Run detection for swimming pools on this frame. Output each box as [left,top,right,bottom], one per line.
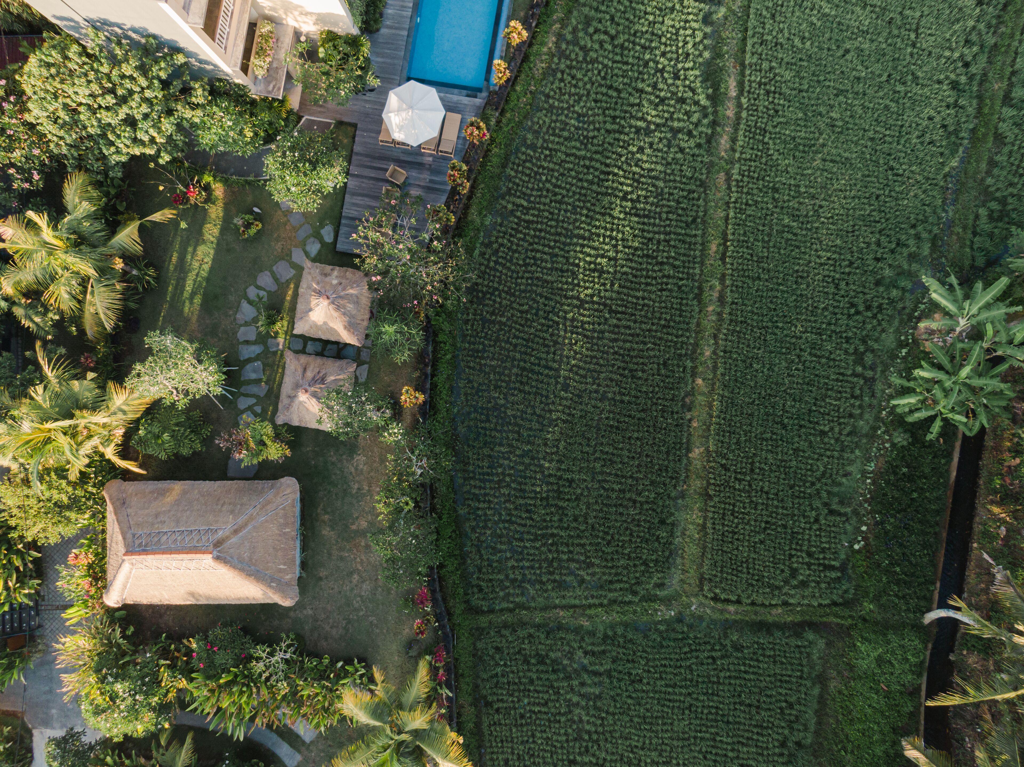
[399,0,512,101]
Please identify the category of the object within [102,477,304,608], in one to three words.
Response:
house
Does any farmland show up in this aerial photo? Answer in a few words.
Yes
